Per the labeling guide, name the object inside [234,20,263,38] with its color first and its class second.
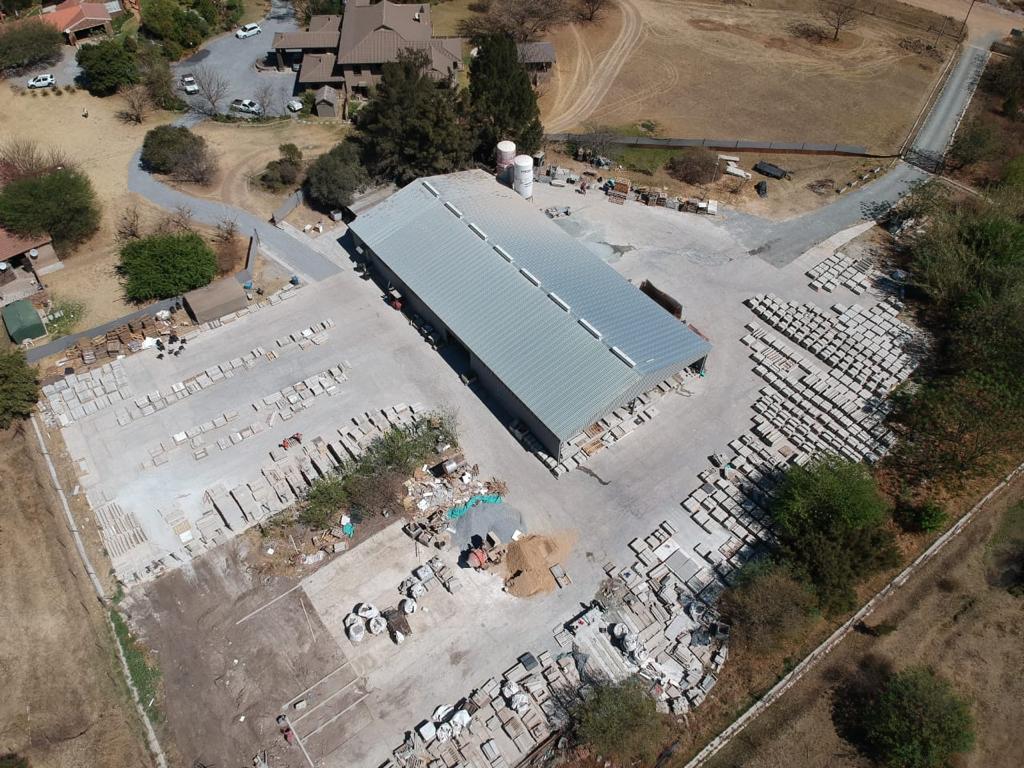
white car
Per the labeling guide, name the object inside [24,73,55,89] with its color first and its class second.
white car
